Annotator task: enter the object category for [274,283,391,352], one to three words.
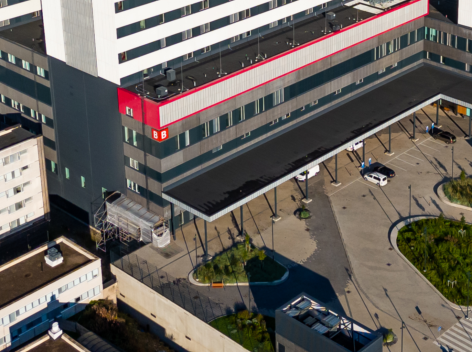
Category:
building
